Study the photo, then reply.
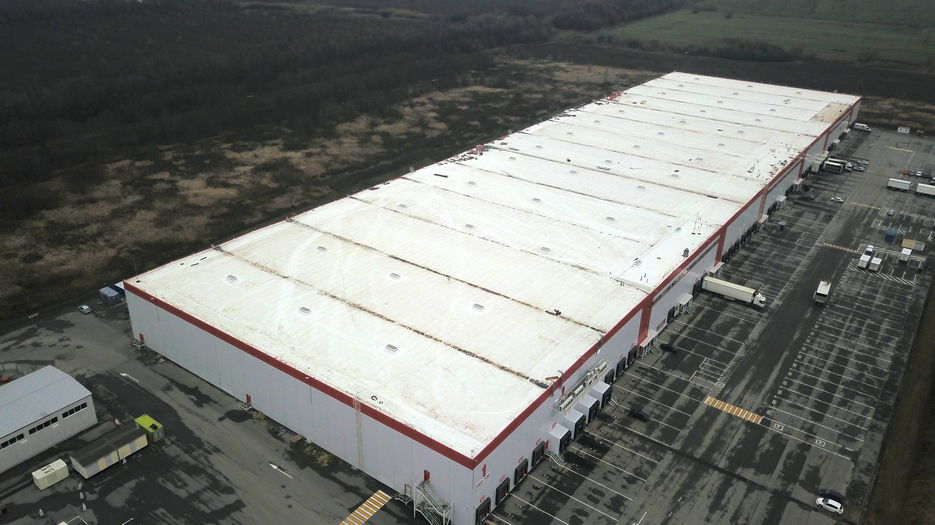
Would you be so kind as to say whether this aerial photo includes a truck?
Yes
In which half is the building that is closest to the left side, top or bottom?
bottom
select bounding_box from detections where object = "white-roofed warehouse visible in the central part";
[121,72,864,525]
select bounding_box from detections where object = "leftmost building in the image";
[0,364,99,473]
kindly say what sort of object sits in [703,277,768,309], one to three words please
truck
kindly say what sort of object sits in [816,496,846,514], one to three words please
car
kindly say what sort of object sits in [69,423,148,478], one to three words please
building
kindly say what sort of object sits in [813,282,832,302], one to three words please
vehicle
